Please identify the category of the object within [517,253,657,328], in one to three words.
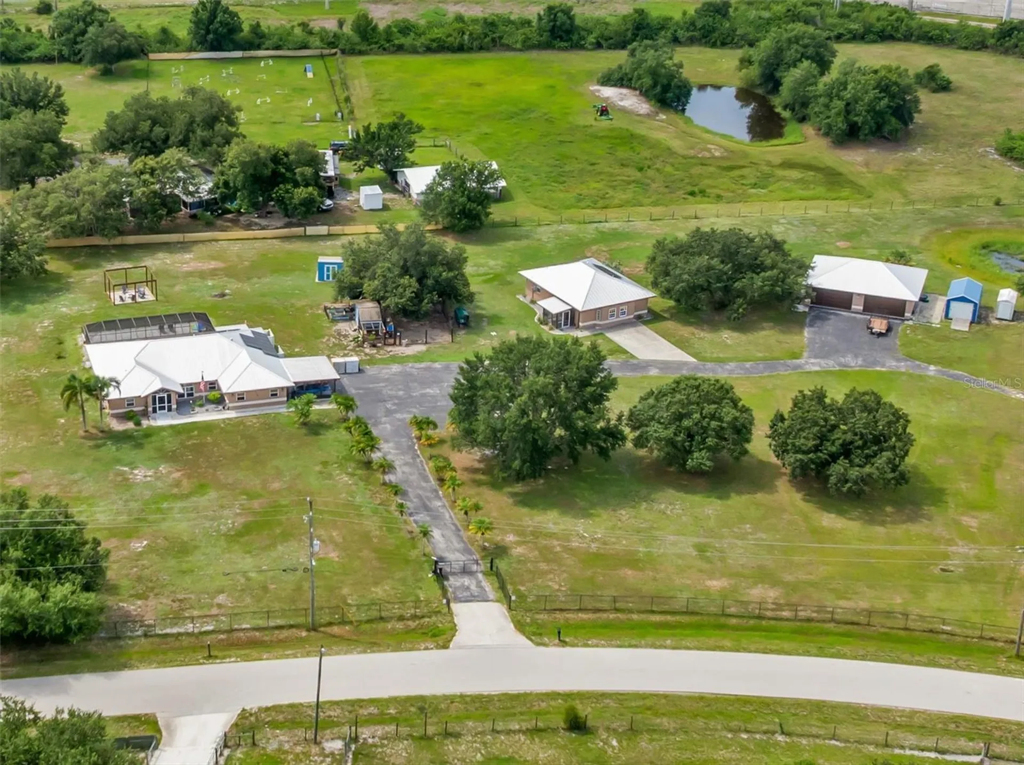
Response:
house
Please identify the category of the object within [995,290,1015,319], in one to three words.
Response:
shed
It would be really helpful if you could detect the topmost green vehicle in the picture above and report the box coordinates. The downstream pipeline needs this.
[589,103,615,121]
